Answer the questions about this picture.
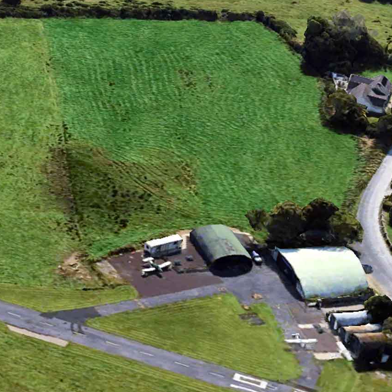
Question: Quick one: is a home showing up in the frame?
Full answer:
Yes, there is a home in the image.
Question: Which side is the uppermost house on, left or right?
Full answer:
It is on the right.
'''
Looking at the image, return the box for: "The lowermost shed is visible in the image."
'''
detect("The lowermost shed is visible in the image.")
[346,332,392,359]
